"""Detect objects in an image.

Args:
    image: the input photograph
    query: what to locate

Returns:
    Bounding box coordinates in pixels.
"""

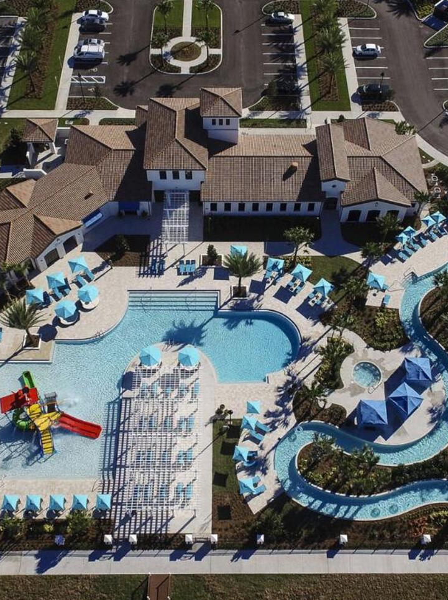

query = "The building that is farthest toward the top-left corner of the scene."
[21,118,60,144]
